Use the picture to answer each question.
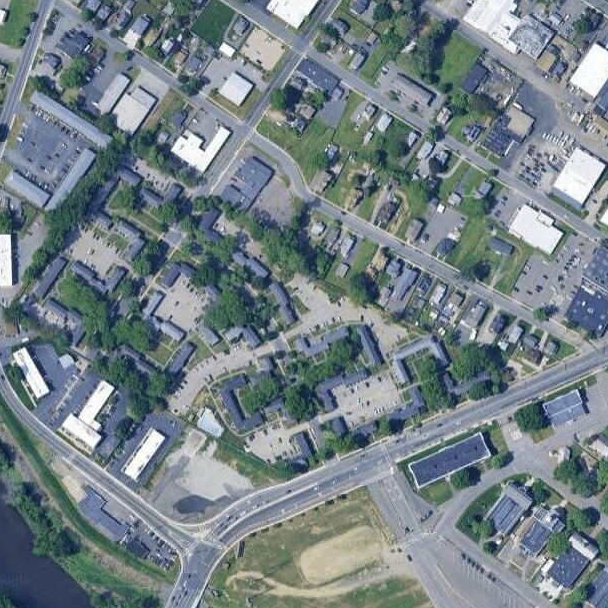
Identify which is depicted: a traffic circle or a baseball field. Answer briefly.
baseball field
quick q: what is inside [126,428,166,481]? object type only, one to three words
building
